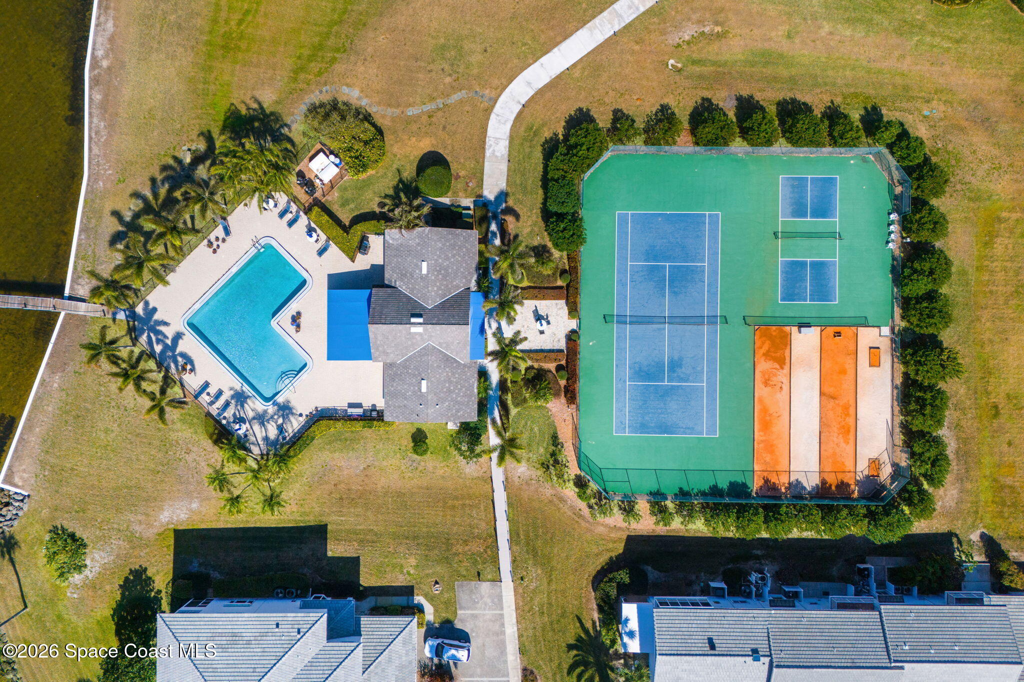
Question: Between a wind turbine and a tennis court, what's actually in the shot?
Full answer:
The image shows a tennis court.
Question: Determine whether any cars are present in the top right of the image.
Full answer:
No, no car can be made out in the top right of the image.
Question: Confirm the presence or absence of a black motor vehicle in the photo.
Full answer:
No, no black motor vehicle is visible in the view.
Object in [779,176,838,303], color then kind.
blue sports court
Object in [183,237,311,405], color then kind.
blue swimming pool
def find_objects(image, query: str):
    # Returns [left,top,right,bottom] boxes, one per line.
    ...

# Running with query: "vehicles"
[425,636,470,662]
